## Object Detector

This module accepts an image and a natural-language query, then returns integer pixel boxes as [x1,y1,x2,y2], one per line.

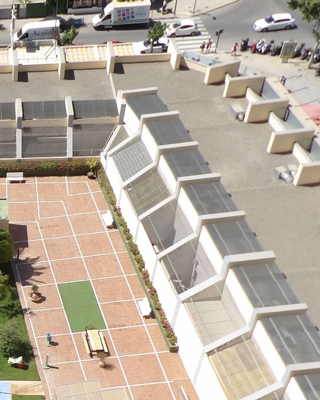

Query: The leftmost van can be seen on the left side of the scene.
[12,18,63,46]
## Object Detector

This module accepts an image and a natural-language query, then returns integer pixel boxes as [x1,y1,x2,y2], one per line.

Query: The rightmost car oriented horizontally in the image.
[250,12,298,32]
